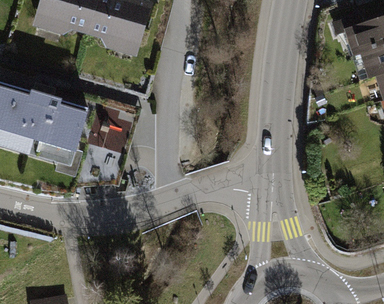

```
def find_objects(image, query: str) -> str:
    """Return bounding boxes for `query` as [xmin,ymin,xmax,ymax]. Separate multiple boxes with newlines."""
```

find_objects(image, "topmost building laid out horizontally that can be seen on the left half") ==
[33,0,154,56]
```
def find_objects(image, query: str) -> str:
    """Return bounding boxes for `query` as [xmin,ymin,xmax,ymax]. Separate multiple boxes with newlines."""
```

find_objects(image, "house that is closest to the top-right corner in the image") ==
[328,14,384,104]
